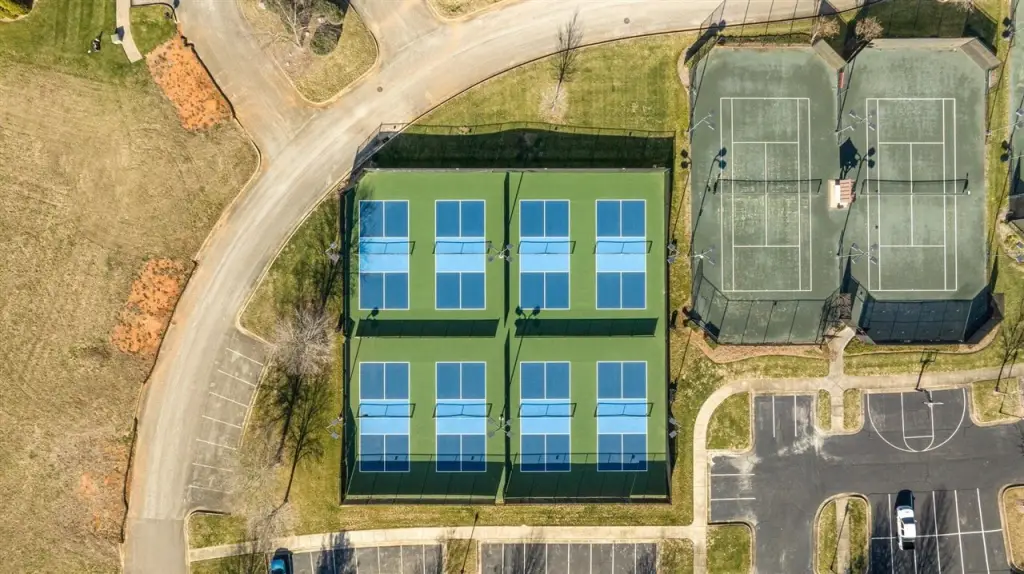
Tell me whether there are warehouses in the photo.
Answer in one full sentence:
No, no warehouse can be seen from above.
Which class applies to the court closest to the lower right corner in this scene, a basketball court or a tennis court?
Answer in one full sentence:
Specifically, the court closest to the lower right corner is a basketball court.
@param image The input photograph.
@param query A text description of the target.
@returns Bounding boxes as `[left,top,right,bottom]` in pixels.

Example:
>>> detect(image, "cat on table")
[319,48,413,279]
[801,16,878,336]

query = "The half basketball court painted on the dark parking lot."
[868,389,965,452]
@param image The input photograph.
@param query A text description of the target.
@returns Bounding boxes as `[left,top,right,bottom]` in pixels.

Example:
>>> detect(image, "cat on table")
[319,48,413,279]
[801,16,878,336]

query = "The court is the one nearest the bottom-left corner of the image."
[360,362,410,472]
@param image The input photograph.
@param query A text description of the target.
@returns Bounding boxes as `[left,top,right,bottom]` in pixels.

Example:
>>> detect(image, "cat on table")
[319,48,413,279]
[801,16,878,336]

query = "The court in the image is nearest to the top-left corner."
[359,200,410,310]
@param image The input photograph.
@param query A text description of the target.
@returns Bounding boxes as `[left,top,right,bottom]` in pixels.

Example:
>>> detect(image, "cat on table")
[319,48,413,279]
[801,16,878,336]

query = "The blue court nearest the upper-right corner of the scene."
[596,200,646,310]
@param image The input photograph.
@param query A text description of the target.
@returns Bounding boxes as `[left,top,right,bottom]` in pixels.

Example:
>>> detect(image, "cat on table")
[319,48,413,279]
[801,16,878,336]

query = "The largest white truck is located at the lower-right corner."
[894,503,917,550]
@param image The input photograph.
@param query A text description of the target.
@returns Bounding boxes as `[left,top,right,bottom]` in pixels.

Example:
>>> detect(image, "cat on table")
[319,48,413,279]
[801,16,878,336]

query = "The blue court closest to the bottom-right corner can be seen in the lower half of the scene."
[597,362,648,472]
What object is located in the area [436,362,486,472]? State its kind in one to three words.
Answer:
sports court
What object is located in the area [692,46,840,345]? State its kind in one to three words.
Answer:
tennis court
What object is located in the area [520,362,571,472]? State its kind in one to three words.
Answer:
sports court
